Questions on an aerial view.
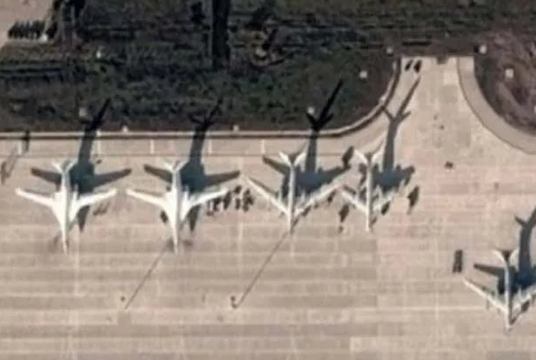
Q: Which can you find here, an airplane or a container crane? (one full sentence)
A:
It is an airplane that can be seen here.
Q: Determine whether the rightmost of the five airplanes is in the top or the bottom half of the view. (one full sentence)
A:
The rightmost of the five airplanes is in the bottom half of the image.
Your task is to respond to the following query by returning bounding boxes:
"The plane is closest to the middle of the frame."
[247,151,334,233]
